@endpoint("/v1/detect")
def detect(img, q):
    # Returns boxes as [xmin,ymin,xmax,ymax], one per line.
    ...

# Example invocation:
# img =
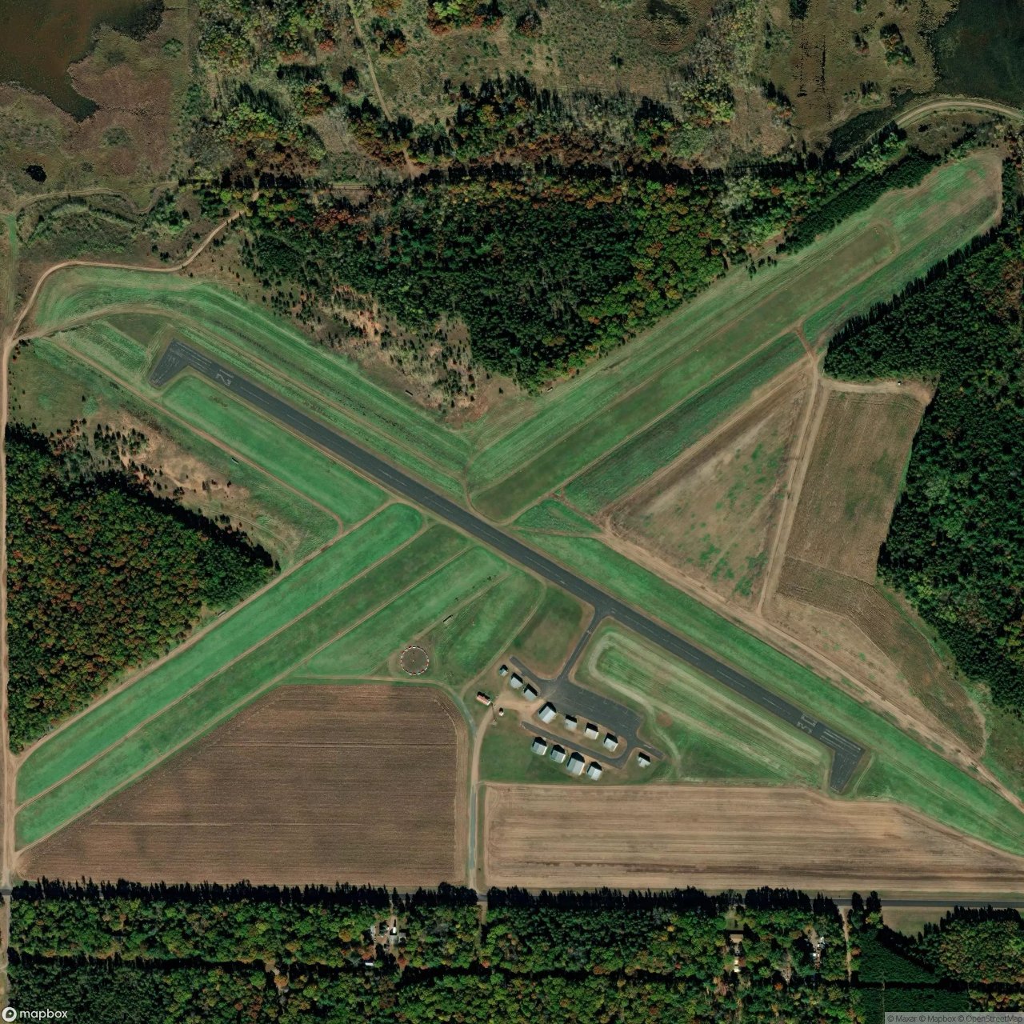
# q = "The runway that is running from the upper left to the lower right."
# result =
[150,338,865,793]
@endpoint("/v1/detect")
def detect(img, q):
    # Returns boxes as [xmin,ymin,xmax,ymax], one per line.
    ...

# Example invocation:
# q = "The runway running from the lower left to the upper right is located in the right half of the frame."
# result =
[476,226,895,519]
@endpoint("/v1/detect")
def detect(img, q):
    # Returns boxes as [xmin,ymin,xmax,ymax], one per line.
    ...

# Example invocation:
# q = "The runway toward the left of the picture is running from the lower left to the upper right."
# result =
[18,525,471,848]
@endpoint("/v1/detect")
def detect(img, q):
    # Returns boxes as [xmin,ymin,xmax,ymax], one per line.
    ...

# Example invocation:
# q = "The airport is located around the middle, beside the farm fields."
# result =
[18,226,895,848]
